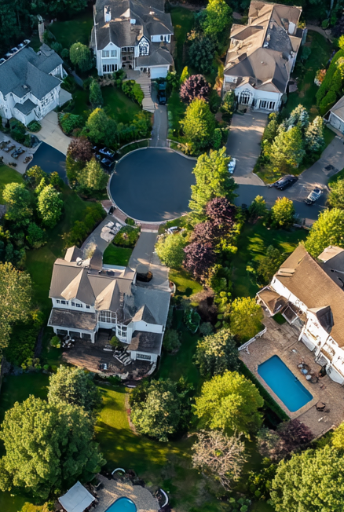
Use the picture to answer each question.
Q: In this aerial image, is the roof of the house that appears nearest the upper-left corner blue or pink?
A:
blue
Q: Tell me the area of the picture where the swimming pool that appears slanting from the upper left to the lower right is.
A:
bottom right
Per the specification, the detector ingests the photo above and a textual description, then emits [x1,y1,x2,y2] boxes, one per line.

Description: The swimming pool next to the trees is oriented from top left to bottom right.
[251,349,319,416]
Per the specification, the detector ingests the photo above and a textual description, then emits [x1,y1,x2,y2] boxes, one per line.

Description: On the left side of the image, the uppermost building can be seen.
[94,0,175,78]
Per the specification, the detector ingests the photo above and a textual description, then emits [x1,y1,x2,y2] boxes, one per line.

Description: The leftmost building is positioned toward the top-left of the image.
[0,38,65,128]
